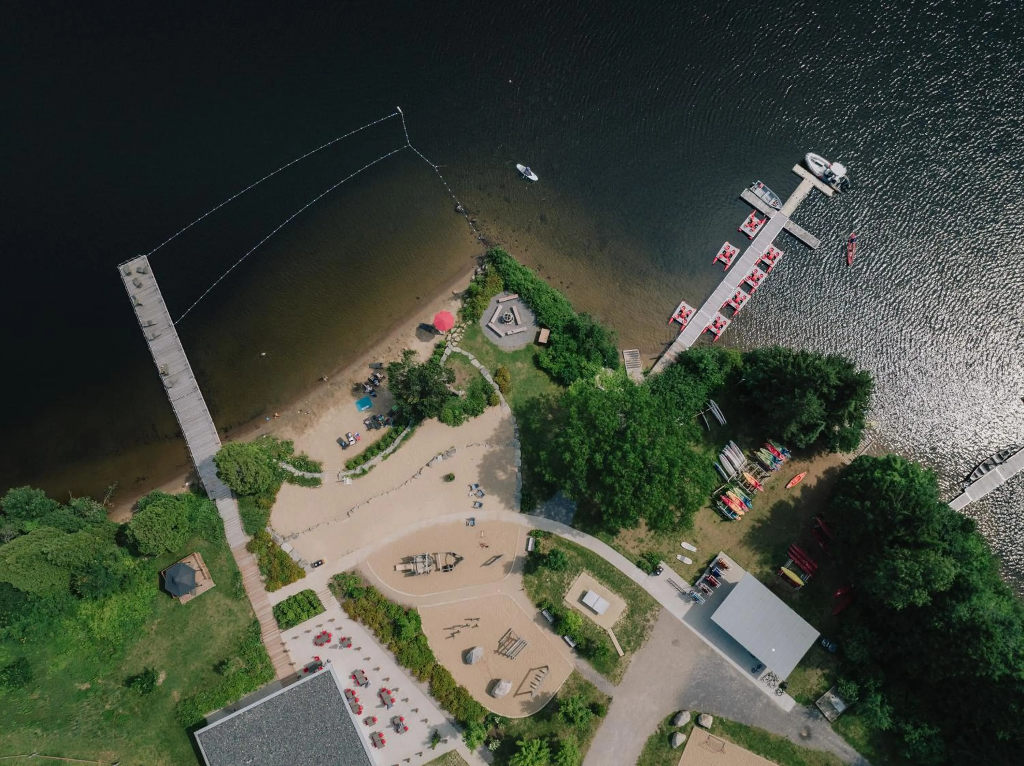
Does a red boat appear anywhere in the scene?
Yes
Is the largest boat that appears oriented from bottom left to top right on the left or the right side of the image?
right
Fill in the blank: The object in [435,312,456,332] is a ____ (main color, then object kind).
red umbrella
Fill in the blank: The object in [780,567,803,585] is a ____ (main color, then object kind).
yellow boat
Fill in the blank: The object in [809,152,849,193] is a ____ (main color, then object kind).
white boat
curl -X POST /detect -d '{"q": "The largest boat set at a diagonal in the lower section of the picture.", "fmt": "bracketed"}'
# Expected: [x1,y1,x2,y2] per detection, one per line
[965,447,1011,482]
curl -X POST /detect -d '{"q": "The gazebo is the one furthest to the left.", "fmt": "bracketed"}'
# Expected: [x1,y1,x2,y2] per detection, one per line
[159,552,216,604]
